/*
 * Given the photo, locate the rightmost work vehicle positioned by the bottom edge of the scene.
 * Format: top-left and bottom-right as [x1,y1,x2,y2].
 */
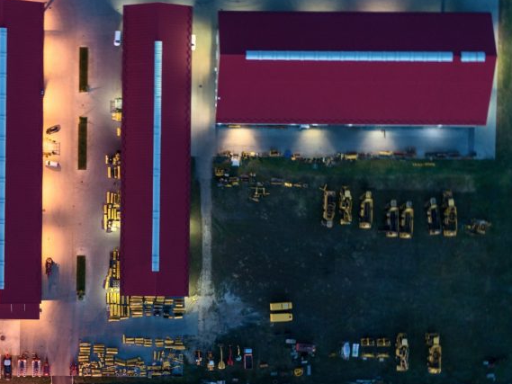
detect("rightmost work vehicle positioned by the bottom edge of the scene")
[429,333,443,373]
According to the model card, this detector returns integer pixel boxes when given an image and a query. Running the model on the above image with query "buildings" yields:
[0,0,44,320]
[120,1,192,296]
[215,11,500,128]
